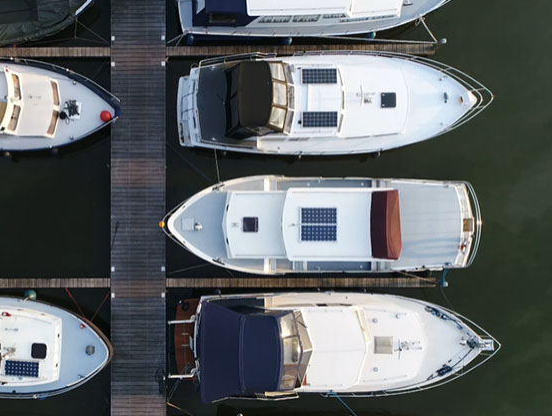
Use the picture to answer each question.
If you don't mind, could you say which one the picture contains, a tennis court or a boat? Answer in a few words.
boat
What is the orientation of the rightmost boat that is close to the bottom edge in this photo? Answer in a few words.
horizontally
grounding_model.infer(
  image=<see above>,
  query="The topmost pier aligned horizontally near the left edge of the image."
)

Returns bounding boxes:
[0,47,111,59]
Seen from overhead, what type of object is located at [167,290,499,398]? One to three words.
boat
